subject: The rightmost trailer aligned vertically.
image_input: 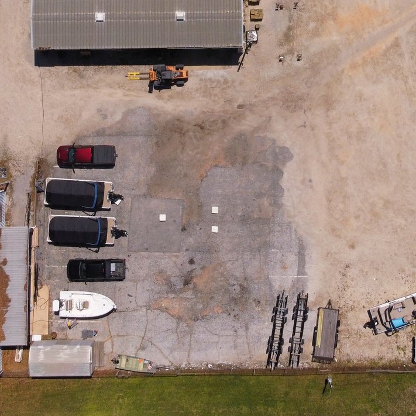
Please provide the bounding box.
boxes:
[312,294,338,366]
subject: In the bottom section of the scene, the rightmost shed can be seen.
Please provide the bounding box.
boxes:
[29,335,96,376]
